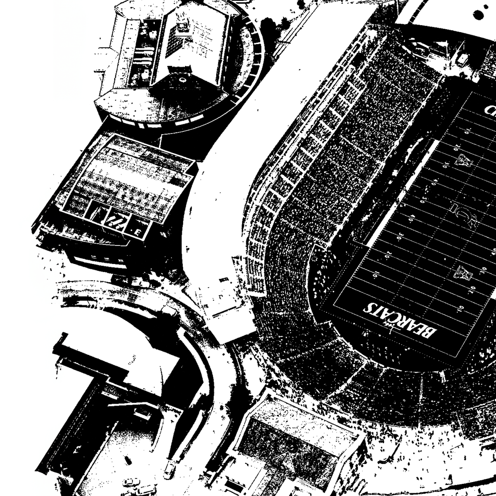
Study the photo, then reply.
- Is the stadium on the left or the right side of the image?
right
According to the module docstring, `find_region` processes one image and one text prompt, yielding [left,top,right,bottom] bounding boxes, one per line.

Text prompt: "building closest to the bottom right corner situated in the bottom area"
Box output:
[221,387,367,496]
